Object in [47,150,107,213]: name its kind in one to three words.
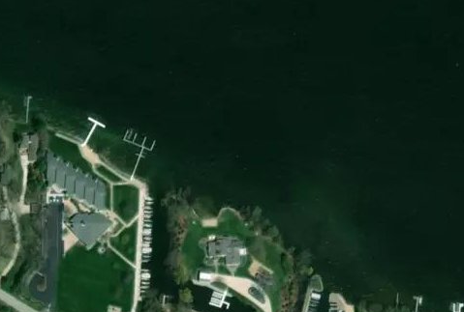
building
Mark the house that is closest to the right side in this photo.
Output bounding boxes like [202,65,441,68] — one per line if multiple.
[209,235,248,264]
